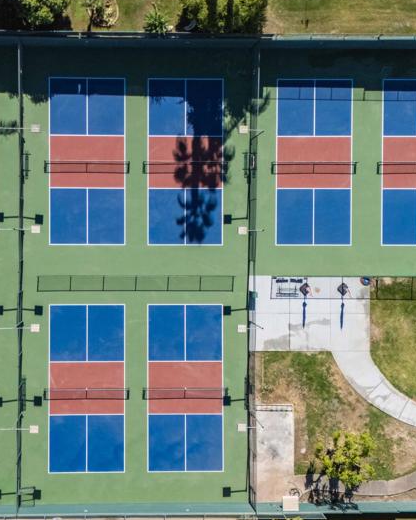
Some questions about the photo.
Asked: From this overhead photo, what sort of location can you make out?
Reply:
sports ground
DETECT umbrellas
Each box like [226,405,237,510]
[337,285,353,296]
[299,284,314,296]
